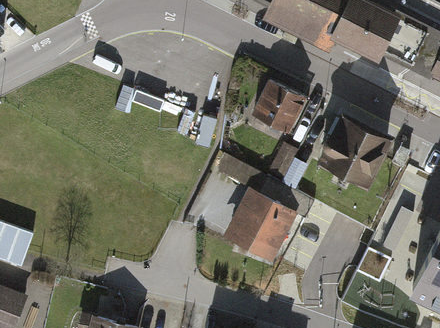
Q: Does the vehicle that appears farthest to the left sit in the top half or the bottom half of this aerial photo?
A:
top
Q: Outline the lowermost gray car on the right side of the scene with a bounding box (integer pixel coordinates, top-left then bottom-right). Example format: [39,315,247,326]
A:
[298,225,322,243]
